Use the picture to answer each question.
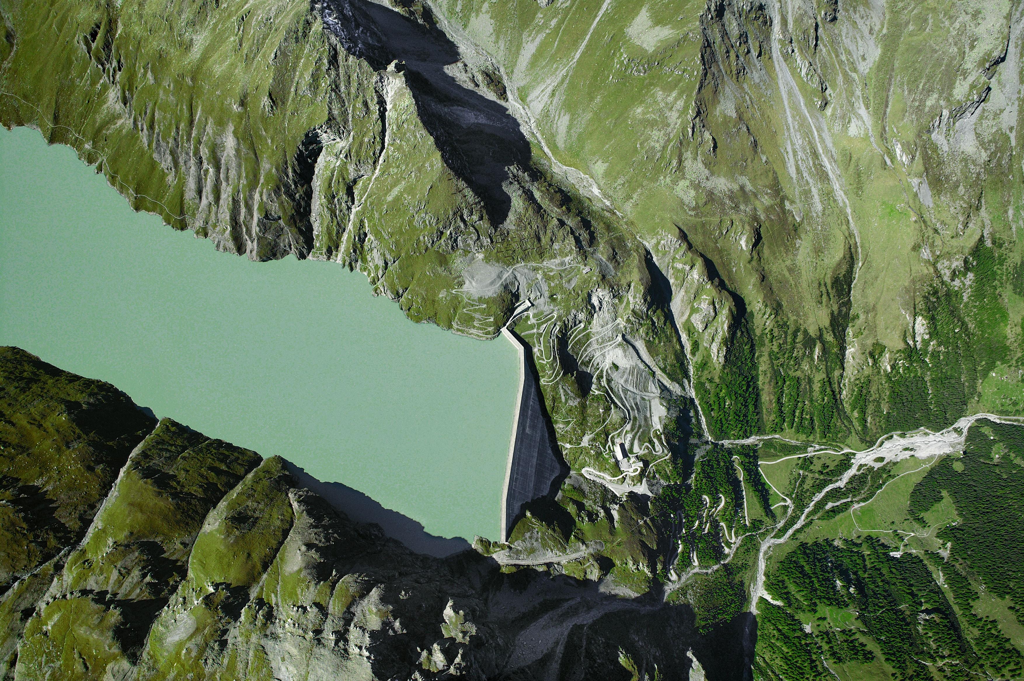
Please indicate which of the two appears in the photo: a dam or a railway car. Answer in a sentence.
Visible in the photo is a dam.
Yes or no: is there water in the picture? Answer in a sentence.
Yes, some water is visible.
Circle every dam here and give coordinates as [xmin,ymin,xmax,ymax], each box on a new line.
[500,327,559,542]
